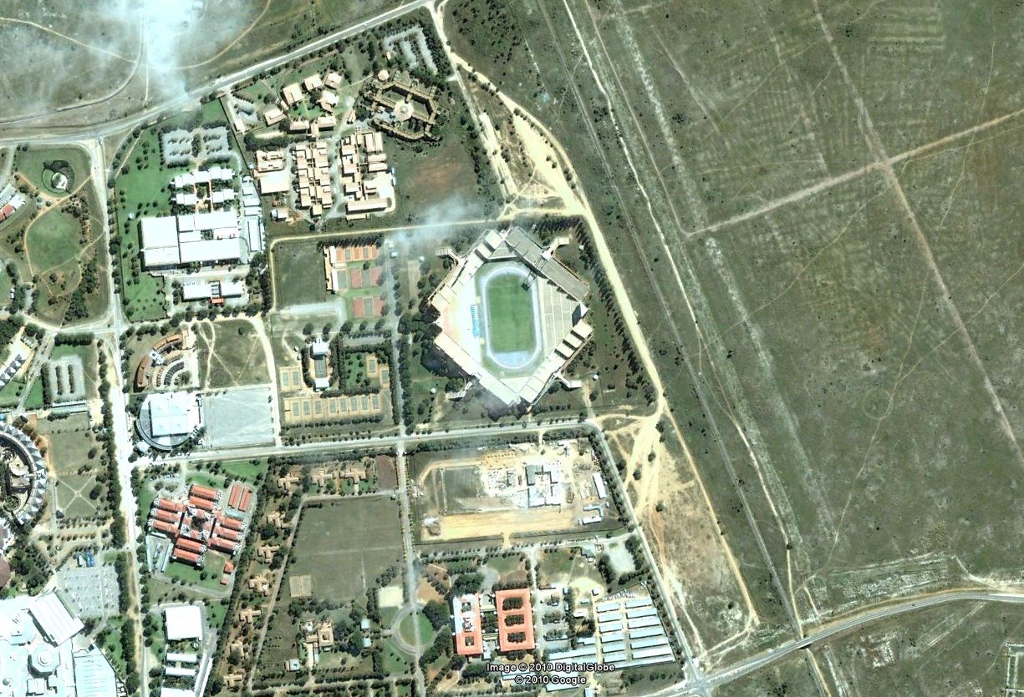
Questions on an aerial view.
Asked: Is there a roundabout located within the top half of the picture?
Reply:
No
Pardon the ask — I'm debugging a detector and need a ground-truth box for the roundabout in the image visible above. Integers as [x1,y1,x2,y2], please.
[393,609,437,653]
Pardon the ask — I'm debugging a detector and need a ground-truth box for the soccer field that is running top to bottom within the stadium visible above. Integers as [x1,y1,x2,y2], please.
[488,274,532,365]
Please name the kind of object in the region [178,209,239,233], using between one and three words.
building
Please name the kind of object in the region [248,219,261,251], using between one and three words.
shed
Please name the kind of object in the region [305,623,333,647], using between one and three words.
house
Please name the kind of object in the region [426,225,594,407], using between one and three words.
stadium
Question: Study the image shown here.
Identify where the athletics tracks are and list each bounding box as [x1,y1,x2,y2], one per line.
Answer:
[481,266,539,371]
